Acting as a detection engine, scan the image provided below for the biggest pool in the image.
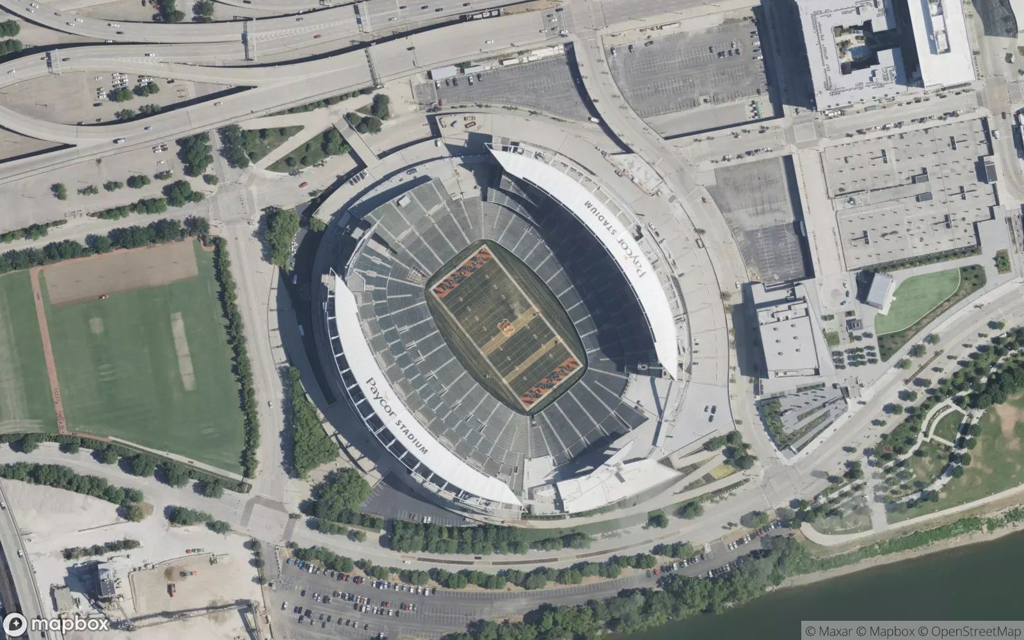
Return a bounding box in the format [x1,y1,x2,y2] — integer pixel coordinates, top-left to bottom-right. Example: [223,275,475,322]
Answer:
[852,45,871,59]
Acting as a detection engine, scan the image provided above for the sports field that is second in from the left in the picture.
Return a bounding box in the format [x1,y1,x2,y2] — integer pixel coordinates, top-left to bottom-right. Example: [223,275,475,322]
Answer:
[40,238,245,477]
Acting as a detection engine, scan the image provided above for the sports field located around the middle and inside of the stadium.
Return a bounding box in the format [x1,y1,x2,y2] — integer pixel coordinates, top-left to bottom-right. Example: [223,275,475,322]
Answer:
[425,241,587,416]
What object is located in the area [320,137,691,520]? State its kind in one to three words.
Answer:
stadium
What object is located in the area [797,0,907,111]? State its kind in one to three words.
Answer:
building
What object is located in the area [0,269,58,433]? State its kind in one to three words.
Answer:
sports field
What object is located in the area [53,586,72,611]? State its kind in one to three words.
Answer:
building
